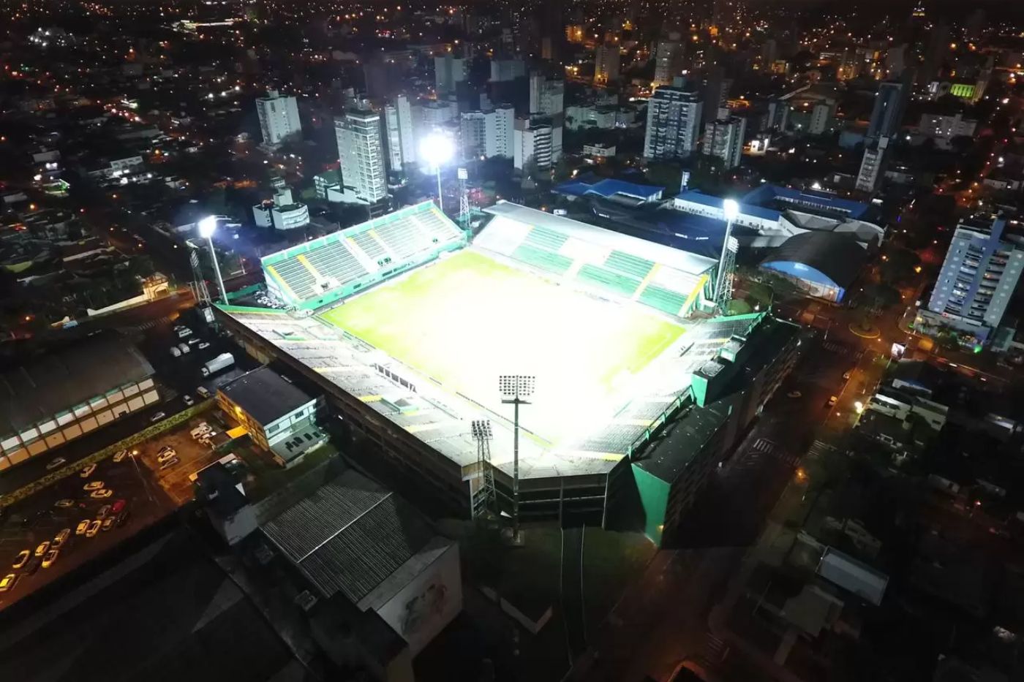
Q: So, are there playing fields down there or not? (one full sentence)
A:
Yes, looking at the shot, I can spot a playing field.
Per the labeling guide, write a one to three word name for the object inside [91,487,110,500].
vehicle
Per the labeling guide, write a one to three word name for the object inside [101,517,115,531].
car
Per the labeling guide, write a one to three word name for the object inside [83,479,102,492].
vehicle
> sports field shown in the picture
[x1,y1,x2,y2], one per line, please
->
[320,249,690,442]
